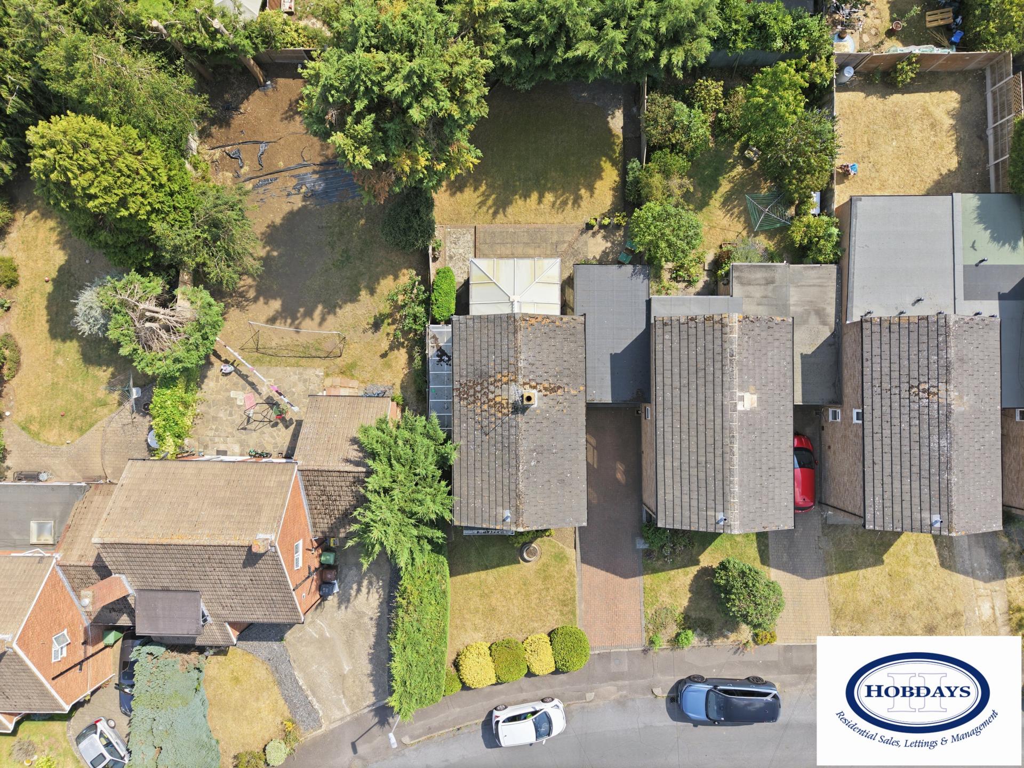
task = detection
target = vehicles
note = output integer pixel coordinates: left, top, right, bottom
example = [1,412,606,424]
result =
[108,627,150,720]
[491,695,567,744]
[672,673,776,724]
[795,432,820,514]
[76,712,132,768]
